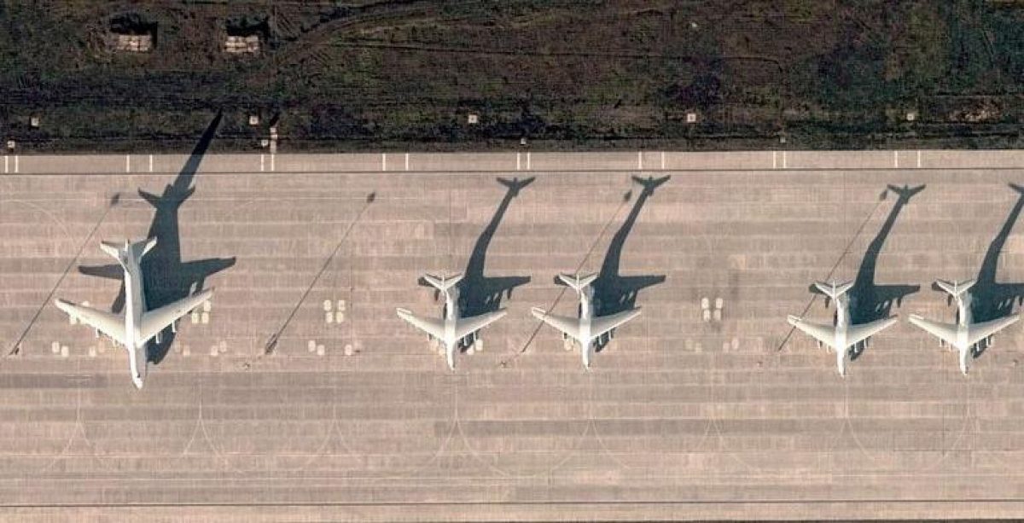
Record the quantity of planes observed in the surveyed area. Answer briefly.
5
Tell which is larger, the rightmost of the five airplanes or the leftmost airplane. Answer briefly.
the leftmost airplane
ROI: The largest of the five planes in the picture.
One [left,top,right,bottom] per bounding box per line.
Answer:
[52,240,213,390]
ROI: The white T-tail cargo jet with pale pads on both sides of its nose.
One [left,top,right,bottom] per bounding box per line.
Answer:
[397,273,506,370]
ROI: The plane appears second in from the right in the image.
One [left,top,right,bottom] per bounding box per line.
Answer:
[786,279,896,377]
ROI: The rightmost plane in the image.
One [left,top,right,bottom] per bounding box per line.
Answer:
[908,277,1019,375]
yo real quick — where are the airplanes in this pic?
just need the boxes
[52,240,213,390]
[786,279,896,377]
[531,272,641,369]
[908,277,1019,375]
[397,273,506,370]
